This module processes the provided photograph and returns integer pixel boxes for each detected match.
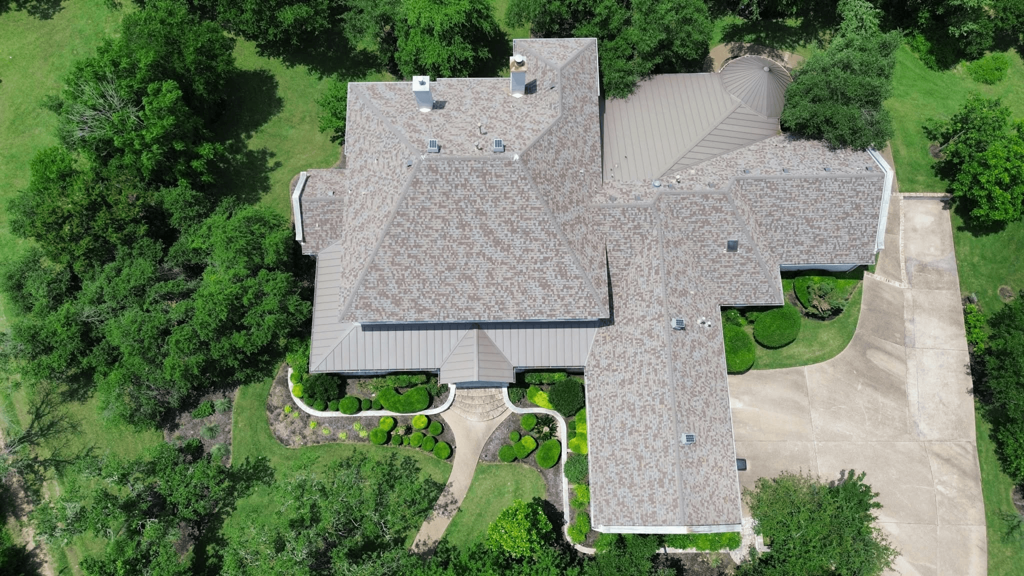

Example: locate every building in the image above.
[292,37,892,534]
